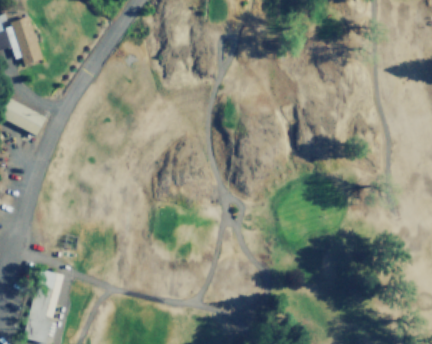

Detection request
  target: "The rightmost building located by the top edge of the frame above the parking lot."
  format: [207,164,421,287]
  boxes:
[7,14,43,65]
